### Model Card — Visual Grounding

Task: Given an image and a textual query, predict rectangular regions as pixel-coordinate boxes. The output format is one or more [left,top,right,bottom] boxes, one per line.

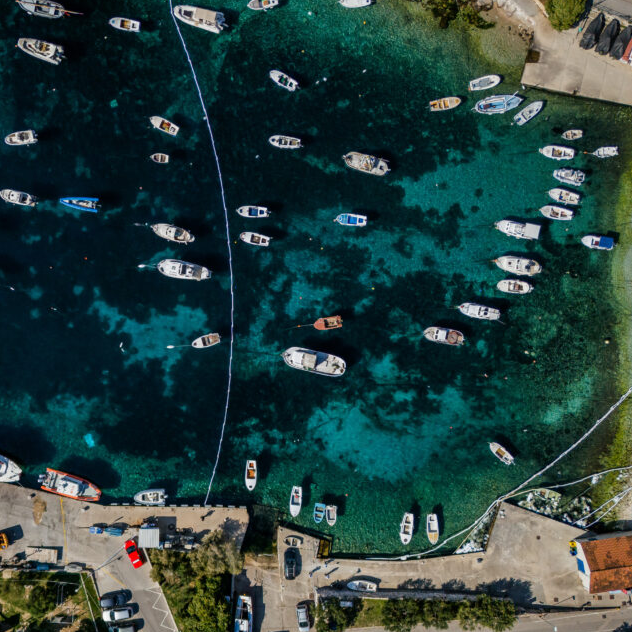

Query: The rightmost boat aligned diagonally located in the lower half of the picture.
[460,424,517,467]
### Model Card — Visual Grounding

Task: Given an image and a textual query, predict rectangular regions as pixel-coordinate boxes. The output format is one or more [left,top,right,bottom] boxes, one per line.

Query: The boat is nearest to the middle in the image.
[304,315,346,331]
